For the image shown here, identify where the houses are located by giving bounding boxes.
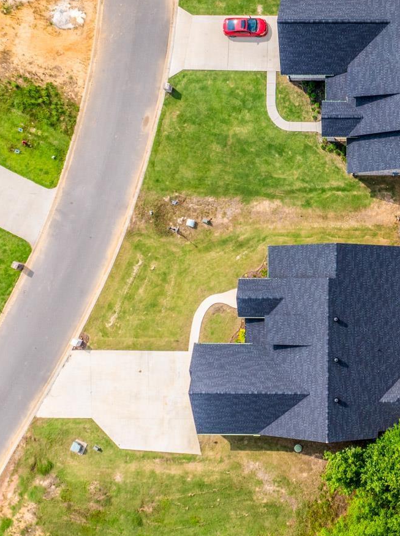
[278,0,400,177]
[189,242,400,443]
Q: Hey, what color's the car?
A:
red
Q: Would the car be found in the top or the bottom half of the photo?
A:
top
